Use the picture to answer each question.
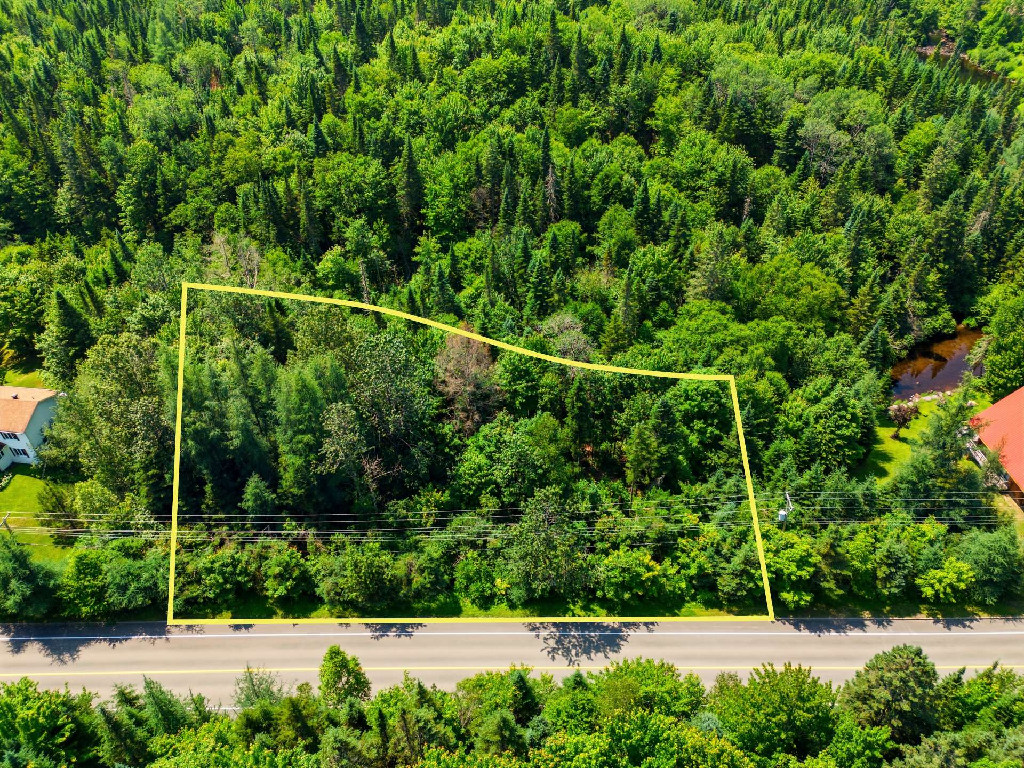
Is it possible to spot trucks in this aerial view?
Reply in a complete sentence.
No, no truck can be seen from above.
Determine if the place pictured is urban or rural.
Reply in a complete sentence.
The land in this view is best described as rural.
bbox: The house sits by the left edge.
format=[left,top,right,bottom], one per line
[0,387,68,472]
